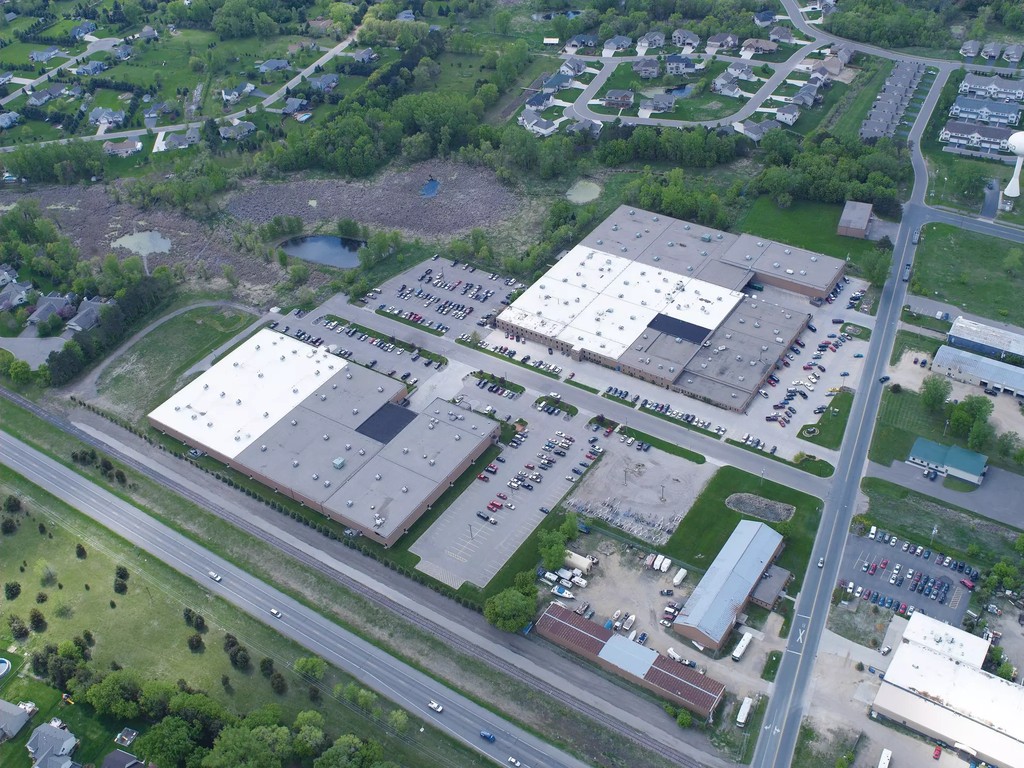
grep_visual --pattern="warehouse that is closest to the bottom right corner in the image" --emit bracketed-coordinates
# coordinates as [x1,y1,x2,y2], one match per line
[872,611,1024,768]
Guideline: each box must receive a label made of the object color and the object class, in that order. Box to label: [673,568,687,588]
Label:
white vehicle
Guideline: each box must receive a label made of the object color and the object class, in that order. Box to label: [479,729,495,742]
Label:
blue vehicle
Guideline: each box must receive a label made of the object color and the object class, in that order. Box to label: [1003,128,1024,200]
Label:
white water tower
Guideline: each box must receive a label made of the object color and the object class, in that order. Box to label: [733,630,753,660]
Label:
white camper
